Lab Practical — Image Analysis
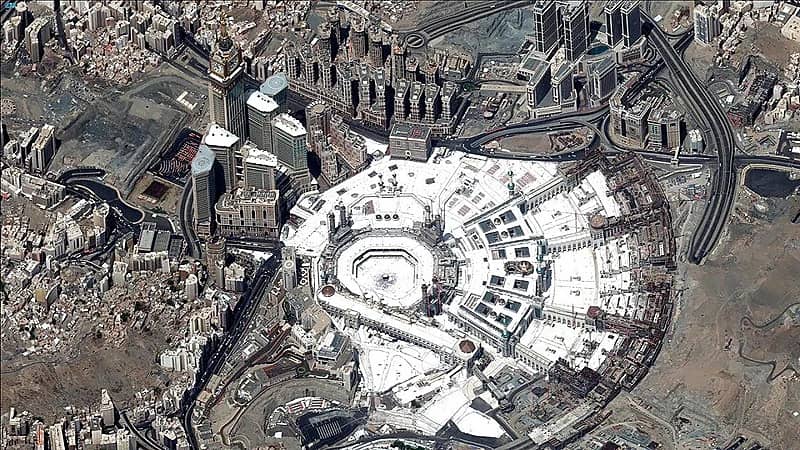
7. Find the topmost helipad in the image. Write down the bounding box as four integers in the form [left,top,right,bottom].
[267,76,283,89]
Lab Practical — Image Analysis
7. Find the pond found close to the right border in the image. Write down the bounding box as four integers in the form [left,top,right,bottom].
[745,166,800,198]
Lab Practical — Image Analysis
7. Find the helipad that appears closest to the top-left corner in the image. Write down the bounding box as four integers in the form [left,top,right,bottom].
[195,154,212,168]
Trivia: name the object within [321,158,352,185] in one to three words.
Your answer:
building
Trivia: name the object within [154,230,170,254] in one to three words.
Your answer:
shed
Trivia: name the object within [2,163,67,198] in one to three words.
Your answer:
building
